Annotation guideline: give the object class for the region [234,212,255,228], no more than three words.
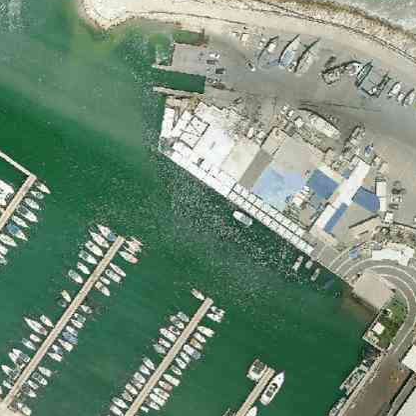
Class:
boat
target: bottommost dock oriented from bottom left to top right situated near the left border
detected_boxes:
[3,236,124,405]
